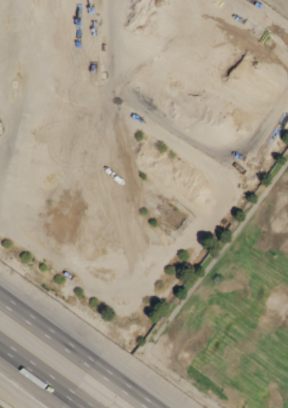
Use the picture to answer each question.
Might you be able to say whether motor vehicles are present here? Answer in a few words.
Yes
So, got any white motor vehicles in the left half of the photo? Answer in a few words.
Yes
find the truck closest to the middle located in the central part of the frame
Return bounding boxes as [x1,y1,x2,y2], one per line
[104,164,127,186]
